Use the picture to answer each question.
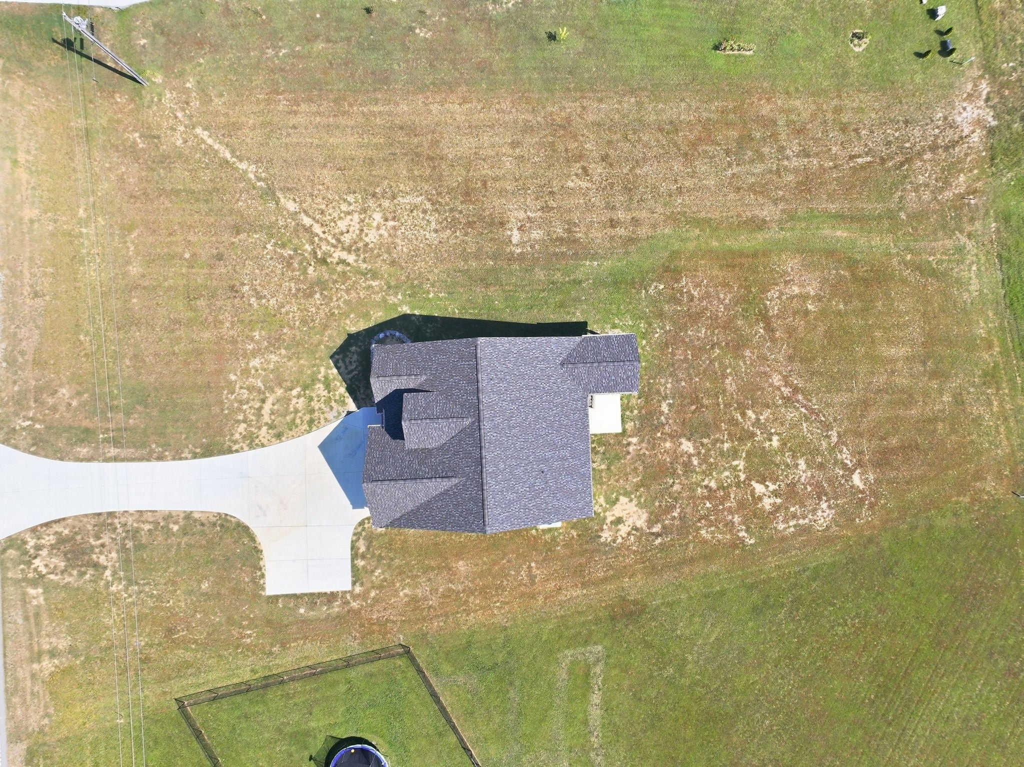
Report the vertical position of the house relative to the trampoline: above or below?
above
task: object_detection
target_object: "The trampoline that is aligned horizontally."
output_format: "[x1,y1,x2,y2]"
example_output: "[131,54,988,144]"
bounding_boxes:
[330,739,395,767]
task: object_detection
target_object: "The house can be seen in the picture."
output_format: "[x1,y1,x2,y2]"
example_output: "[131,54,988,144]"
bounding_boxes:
[361,331,641,534]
